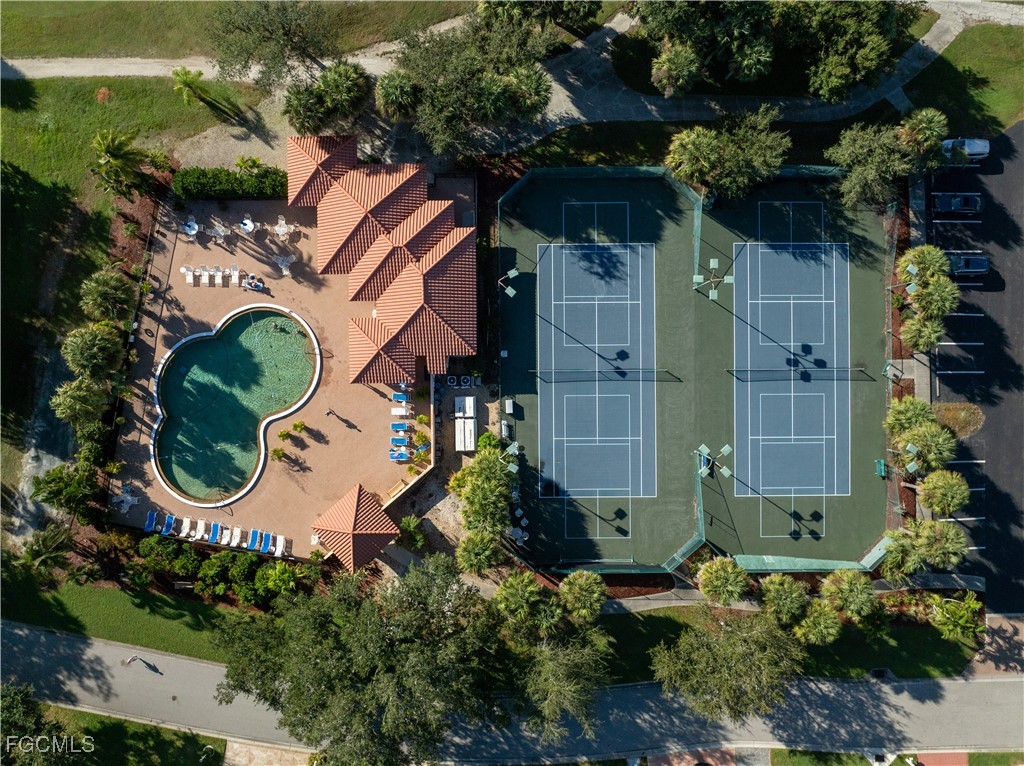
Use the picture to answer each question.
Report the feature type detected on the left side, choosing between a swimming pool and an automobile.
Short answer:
swimming pool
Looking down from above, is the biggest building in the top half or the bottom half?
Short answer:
top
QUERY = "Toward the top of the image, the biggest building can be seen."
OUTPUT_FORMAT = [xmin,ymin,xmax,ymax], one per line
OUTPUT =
[286,135,477,384]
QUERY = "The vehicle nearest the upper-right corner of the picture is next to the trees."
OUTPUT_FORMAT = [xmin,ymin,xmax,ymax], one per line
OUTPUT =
[936,138,990,164]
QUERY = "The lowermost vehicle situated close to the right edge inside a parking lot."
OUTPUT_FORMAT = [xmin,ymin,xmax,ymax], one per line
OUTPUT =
[940,253,991,278]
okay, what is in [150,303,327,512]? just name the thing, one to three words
swimming pool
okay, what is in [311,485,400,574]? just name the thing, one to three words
gazebo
